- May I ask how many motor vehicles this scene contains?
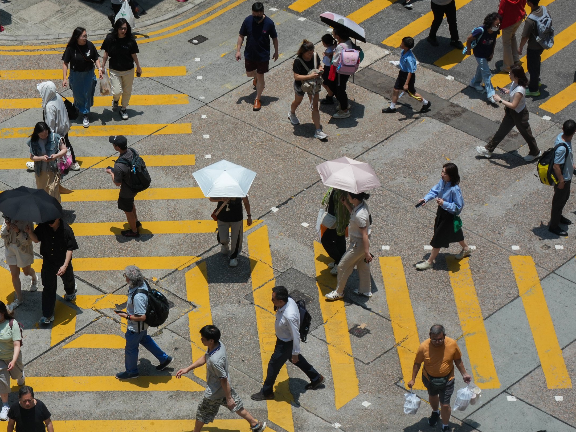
0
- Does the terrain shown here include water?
No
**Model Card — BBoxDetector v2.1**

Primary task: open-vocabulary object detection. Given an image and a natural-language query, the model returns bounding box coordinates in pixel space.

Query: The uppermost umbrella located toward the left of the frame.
[191,159,257,195]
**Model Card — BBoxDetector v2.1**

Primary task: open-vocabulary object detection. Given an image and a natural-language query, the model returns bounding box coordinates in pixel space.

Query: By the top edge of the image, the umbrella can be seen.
[316,21,374,44]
